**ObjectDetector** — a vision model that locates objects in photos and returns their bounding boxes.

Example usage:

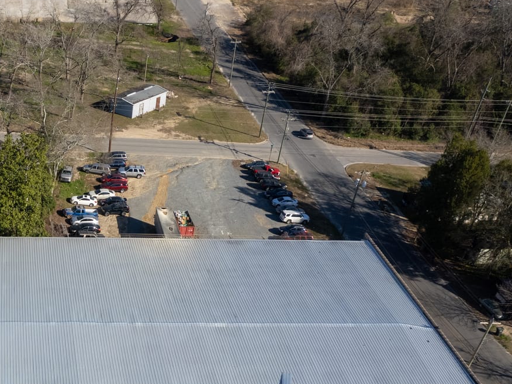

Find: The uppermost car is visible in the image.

[296,124,317,140]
